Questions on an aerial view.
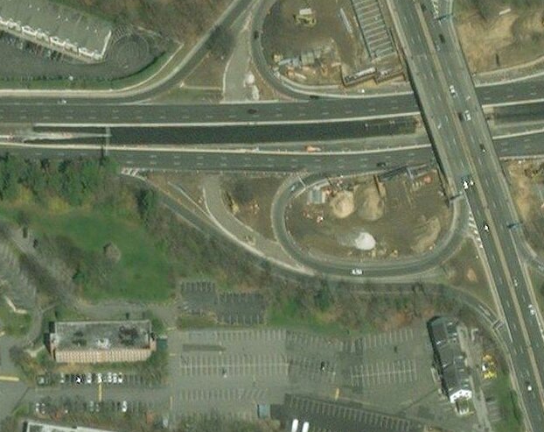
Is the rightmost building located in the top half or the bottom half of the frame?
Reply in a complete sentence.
The bottom half of the photo is where the rightmost building is.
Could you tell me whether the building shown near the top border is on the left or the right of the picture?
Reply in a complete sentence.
The building shown near the top border is on the left side of the image.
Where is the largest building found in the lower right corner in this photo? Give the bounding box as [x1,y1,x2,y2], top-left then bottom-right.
[427,318,473,416]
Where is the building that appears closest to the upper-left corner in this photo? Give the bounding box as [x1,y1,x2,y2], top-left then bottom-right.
[0,0,115,67]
